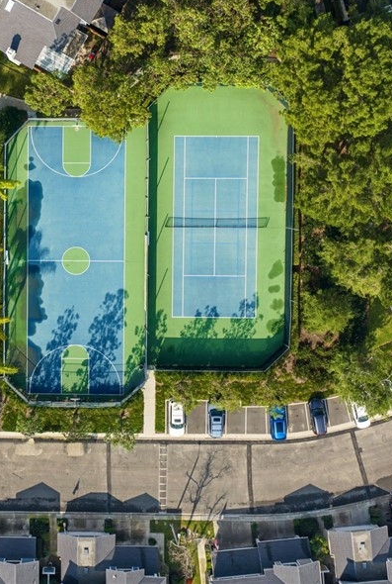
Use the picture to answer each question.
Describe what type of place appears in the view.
sports ground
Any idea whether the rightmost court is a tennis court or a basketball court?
tennis court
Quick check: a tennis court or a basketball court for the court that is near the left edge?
basketball court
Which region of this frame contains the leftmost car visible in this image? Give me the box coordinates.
[169,401,186,436]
